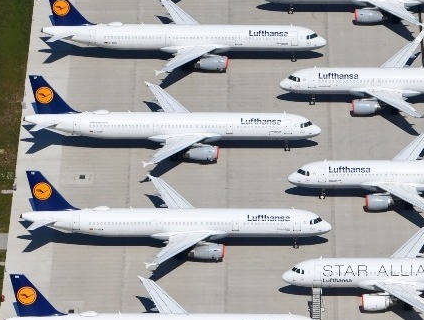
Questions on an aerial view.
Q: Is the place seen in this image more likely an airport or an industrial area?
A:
airport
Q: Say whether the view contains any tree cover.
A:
No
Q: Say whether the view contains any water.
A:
No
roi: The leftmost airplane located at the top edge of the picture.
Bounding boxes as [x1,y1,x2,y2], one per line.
[40,0,326,75]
